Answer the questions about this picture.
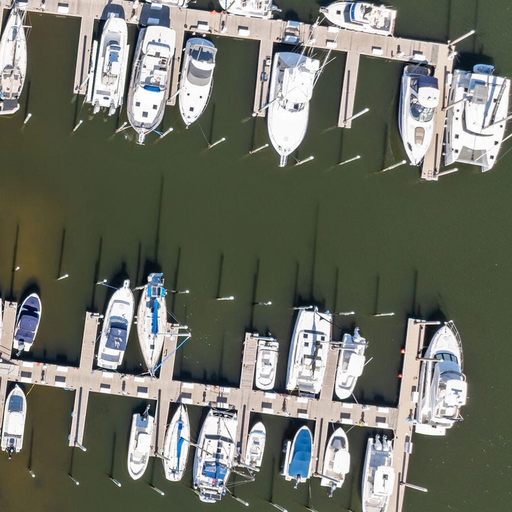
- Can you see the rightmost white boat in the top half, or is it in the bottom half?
top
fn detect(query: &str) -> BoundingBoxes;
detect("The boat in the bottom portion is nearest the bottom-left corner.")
[0,384,26,457]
